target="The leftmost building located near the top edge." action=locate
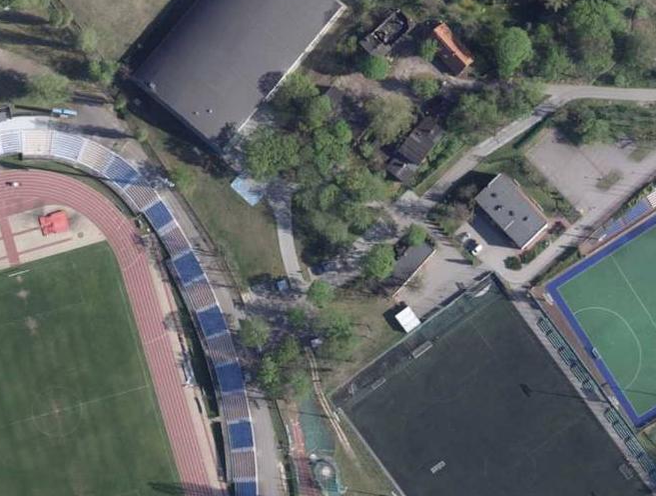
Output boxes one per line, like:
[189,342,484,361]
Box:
[134,0,346,153]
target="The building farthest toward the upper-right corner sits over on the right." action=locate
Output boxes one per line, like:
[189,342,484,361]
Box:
[425,22,474,77]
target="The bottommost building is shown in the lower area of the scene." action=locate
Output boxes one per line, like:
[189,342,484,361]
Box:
[395,306,420,332]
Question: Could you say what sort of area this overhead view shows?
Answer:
sports ground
